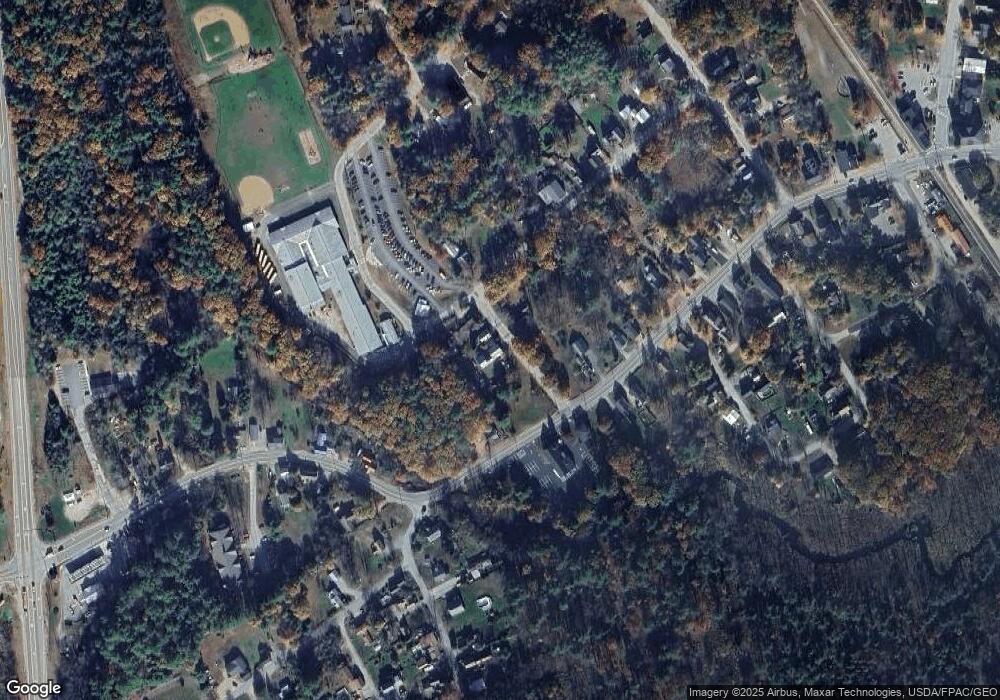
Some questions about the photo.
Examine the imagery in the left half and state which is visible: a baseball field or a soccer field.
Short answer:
baseball field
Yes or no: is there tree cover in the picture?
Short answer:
Yes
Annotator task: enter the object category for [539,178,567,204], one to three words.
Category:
house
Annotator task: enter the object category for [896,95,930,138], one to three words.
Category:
building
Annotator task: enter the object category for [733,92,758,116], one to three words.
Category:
house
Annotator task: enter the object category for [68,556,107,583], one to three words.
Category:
building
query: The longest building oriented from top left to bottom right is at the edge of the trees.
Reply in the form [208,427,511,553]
[269,205,392,357]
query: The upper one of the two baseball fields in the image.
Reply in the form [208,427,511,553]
[185,0,284,72]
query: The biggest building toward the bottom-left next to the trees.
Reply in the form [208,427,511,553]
[208,527,243,578]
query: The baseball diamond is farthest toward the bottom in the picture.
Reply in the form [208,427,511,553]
[213,61,333,214]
